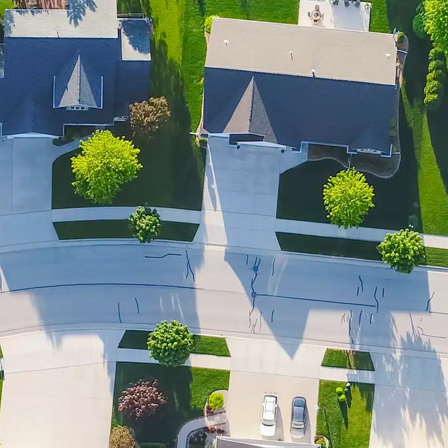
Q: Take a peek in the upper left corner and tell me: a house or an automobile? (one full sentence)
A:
The one visible in the upper left corner is a house.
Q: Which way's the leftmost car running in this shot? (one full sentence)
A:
In this picture, the leftmost car is oriented up and down.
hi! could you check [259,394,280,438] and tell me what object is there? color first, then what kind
white car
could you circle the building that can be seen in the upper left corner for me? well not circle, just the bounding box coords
[0,0,152,139]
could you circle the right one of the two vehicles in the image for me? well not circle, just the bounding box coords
[289,397,309,439]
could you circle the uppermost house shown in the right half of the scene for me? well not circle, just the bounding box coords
[203,17,399,159]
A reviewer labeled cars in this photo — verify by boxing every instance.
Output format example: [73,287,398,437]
[259,394,280,438]
[289,397,309,439]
